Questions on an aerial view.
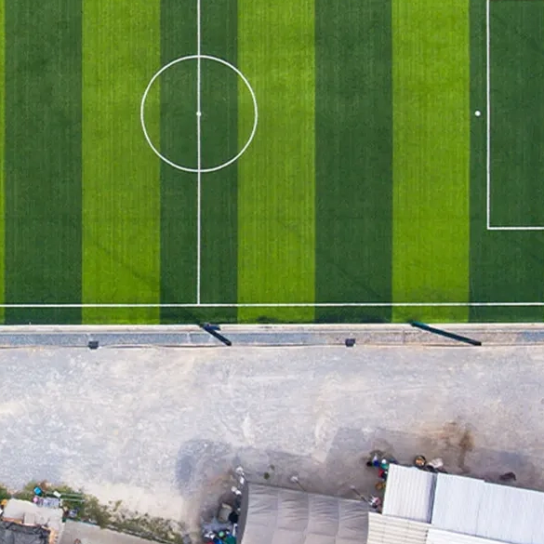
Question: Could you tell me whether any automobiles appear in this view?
No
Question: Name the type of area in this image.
sports ground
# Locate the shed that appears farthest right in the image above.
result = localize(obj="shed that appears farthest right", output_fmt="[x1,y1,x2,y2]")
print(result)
[477,482,544,544]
